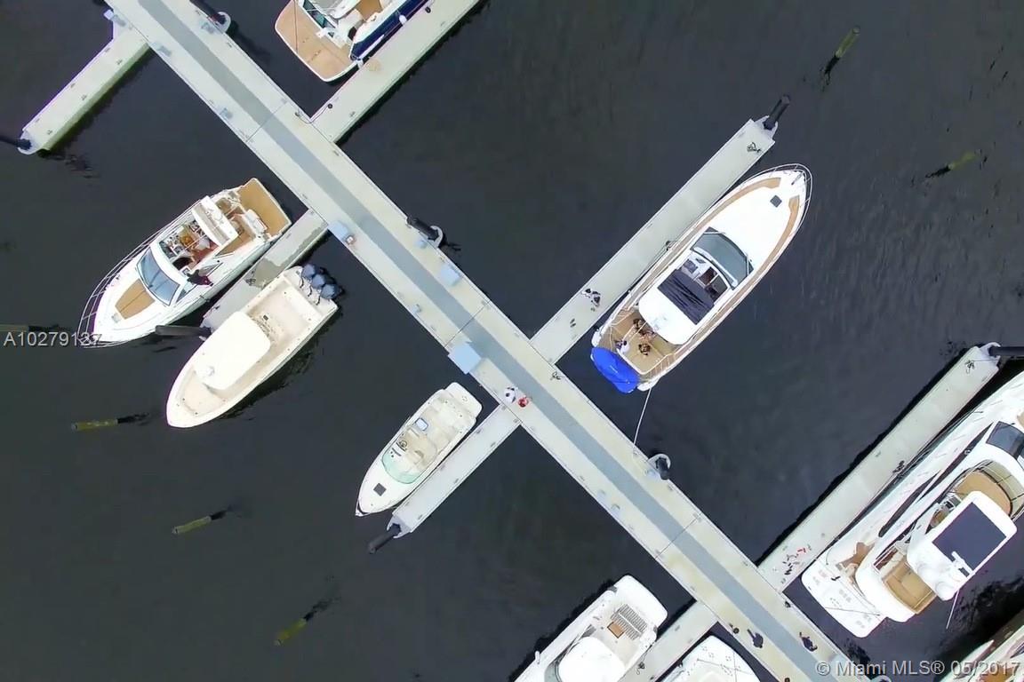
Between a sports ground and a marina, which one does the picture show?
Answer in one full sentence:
What you see here is a marina.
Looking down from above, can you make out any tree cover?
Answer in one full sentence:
No, the scene doesn't show any tree cover.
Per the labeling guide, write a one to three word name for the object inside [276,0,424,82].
boat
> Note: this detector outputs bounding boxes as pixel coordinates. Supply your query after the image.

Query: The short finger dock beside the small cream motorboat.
[384,403,521,541]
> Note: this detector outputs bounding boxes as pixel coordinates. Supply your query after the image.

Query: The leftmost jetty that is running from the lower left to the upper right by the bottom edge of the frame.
[620,600,717,682]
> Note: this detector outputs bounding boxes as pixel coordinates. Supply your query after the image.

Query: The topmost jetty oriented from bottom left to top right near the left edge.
[23,12,151,157]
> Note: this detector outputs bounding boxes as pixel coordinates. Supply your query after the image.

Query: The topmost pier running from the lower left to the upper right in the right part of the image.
[531,111,782,363]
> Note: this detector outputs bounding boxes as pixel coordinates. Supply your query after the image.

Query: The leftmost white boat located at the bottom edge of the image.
[513,575,667,682]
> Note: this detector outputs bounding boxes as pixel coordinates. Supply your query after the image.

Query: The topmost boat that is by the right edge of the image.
[802,365,1024,635]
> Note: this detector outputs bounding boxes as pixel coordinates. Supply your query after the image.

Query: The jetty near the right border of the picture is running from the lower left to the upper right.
[756,338,1006,591]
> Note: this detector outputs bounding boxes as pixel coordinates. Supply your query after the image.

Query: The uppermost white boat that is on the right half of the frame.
[593,160,819,392]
